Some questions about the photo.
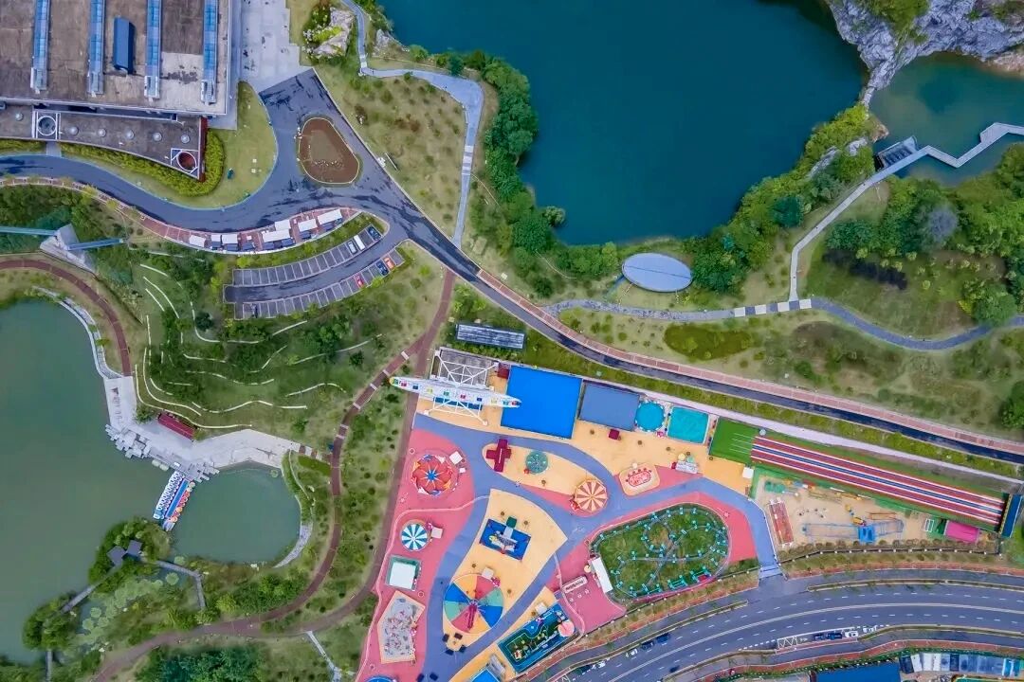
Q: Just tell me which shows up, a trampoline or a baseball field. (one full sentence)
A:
Looking from above, you can make out a trampoline.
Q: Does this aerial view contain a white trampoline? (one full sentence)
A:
Yes, there's a white trampoline here.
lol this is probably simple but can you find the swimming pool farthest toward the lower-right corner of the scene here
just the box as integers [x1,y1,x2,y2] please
[667,407,709,443]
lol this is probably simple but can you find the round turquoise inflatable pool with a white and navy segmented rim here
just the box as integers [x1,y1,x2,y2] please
[636,401,666,431]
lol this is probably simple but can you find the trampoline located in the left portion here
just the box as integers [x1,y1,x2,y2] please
[385,554,421,590]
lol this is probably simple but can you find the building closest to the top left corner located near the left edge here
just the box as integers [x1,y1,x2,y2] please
[0,0,241,183]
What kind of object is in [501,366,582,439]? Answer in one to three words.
building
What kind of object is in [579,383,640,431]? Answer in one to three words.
building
